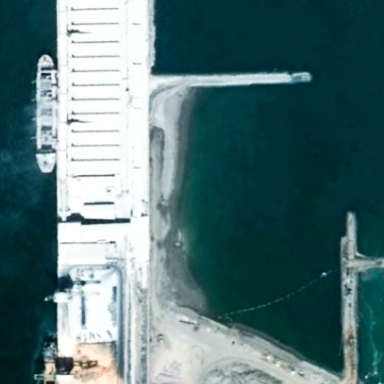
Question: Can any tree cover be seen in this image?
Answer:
No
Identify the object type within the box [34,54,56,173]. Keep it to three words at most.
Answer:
ship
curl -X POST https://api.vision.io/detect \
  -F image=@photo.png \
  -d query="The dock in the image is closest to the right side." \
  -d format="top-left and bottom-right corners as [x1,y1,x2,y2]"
[340,212,384,383]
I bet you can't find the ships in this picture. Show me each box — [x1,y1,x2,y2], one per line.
[34,54,56,173]
[44,342,56,384]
